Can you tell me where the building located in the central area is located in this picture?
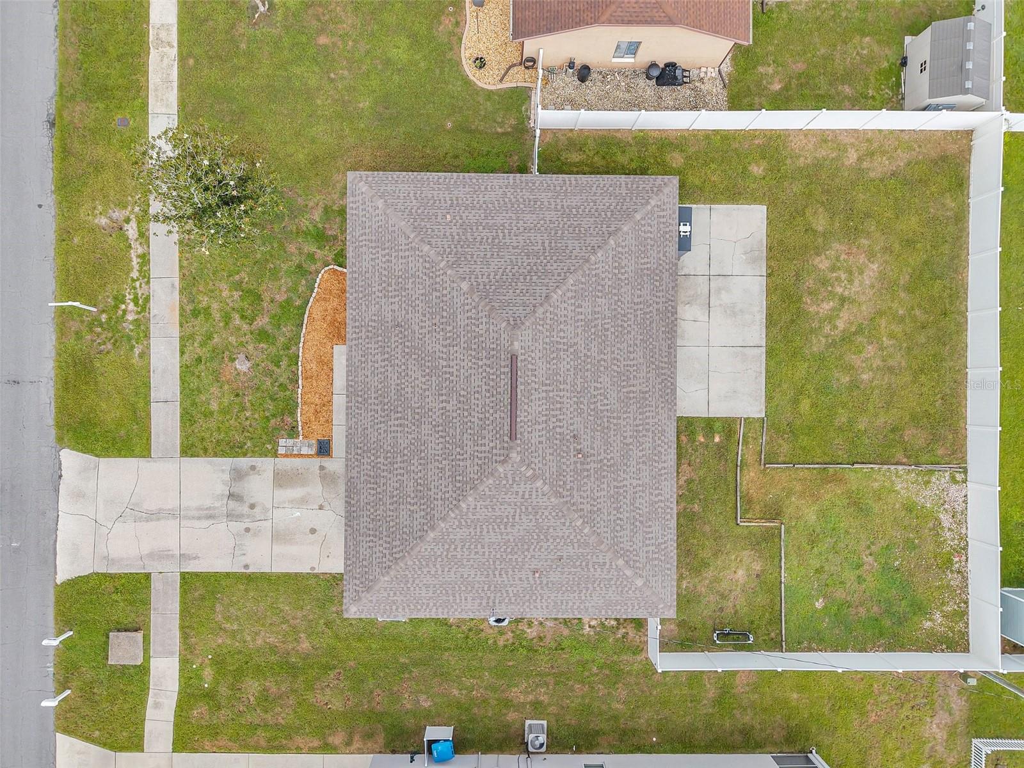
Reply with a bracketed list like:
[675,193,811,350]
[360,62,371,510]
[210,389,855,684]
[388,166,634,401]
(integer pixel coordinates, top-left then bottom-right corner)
[344,172,678,618]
